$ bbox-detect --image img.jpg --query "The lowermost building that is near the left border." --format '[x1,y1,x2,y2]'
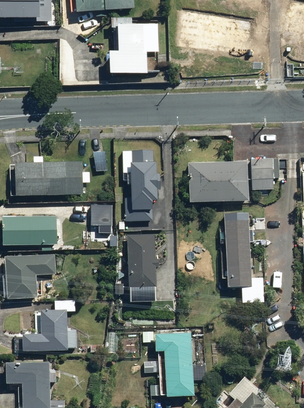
[6,362,64,408]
